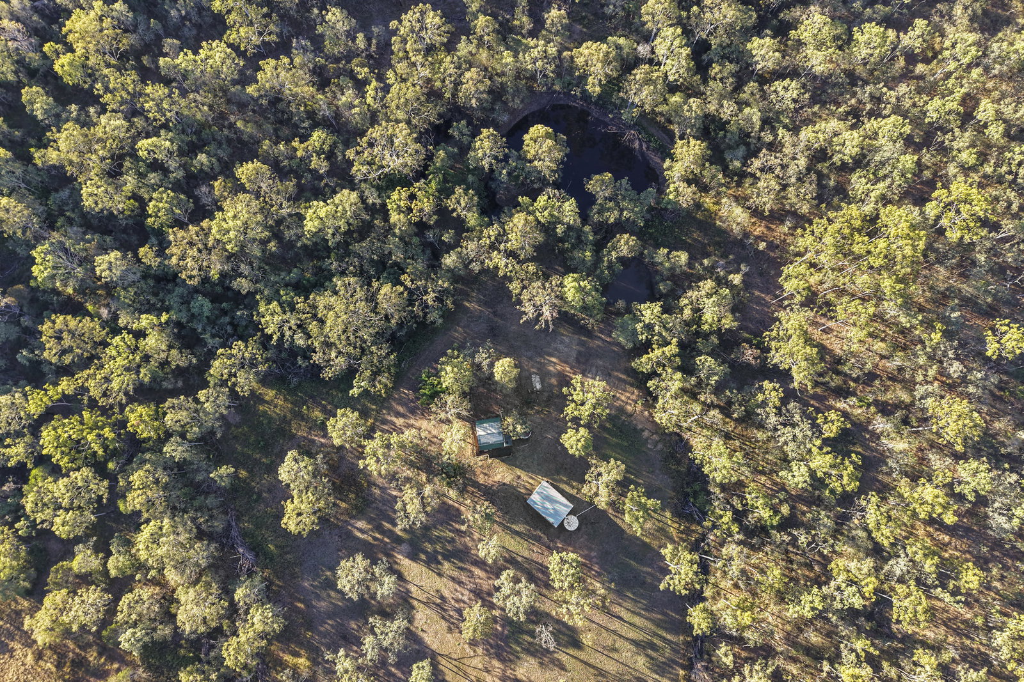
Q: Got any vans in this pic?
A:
No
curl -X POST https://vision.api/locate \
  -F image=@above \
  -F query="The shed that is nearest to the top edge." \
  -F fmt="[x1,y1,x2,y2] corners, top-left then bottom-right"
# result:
[472,413,513,464]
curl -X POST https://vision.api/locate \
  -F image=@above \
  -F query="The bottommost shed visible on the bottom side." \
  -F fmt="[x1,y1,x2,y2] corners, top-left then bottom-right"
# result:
[526,481,574,528]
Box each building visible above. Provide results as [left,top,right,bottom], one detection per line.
[472,413,513,464]
[526,481,574,528]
